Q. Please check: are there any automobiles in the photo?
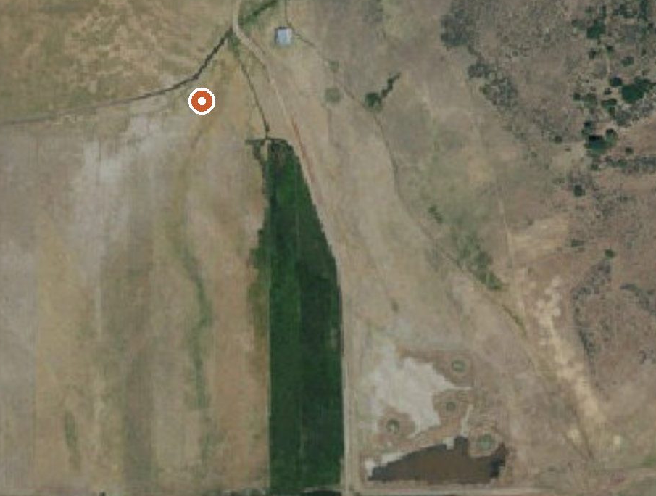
No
